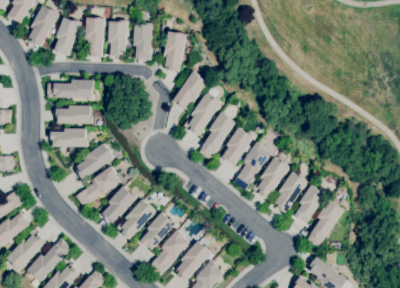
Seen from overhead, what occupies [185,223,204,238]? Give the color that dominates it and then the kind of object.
blue swimming pool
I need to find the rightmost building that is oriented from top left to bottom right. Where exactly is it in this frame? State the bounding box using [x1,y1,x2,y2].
[309,258,354,288]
